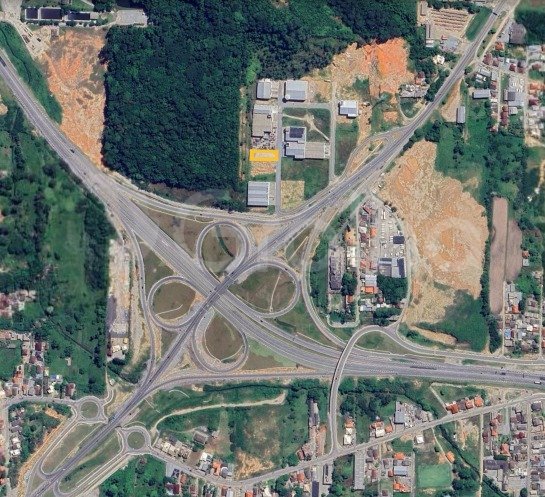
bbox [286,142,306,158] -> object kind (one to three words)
building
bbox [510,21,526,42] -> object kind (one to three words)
building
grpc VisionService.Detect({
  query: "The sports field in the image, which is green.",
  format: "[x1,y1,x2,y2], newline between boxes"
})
[417,463,452,490]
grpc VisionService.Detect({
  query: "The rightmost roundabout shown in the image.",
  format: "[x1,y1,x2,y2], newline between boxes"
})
[122,426,151,454]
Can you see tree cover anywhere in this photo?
Yes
